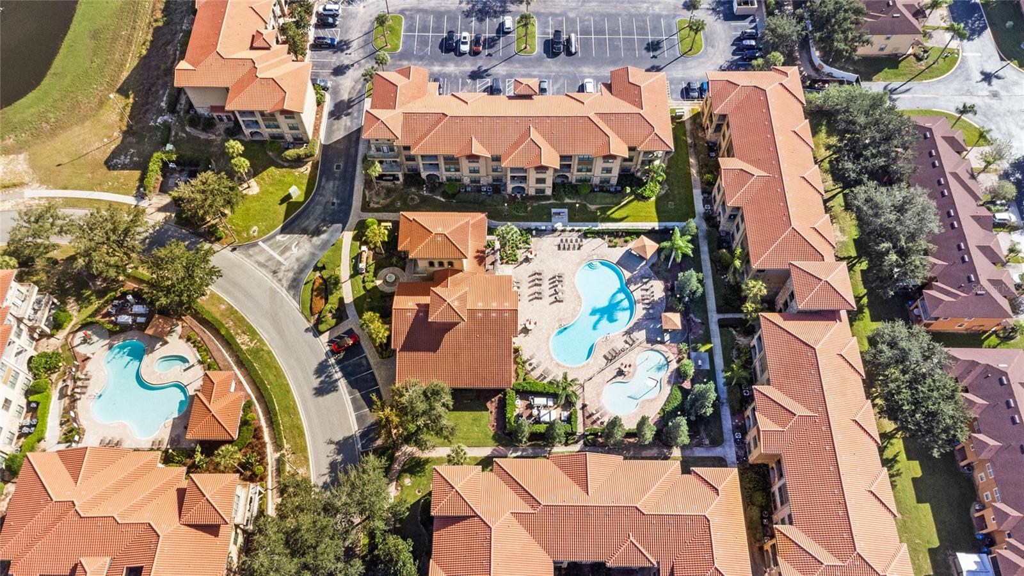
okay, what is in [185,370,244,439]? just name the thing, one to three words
building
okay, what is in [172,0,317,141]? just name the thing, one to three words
building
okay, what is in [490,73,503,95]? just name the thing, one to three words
vehicle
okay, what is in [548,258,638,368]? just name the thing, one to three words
swimming pool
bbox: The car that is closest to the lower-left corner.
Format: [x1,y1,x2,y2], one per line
[330,333,361,354]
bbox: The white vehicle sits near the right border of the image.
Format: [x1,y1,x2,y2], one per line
[991,210,1021,225]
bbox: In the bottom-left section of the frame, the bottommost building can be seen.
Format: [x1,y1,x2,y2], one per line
[0,446,257,576]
